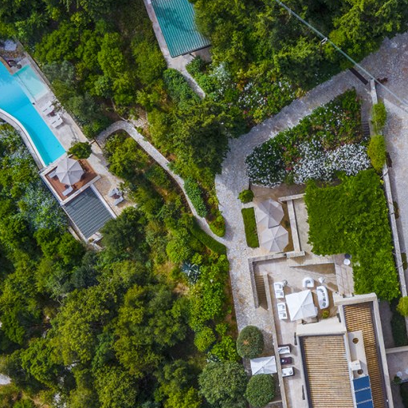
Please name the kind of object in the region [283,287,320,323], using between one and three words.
umbrella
